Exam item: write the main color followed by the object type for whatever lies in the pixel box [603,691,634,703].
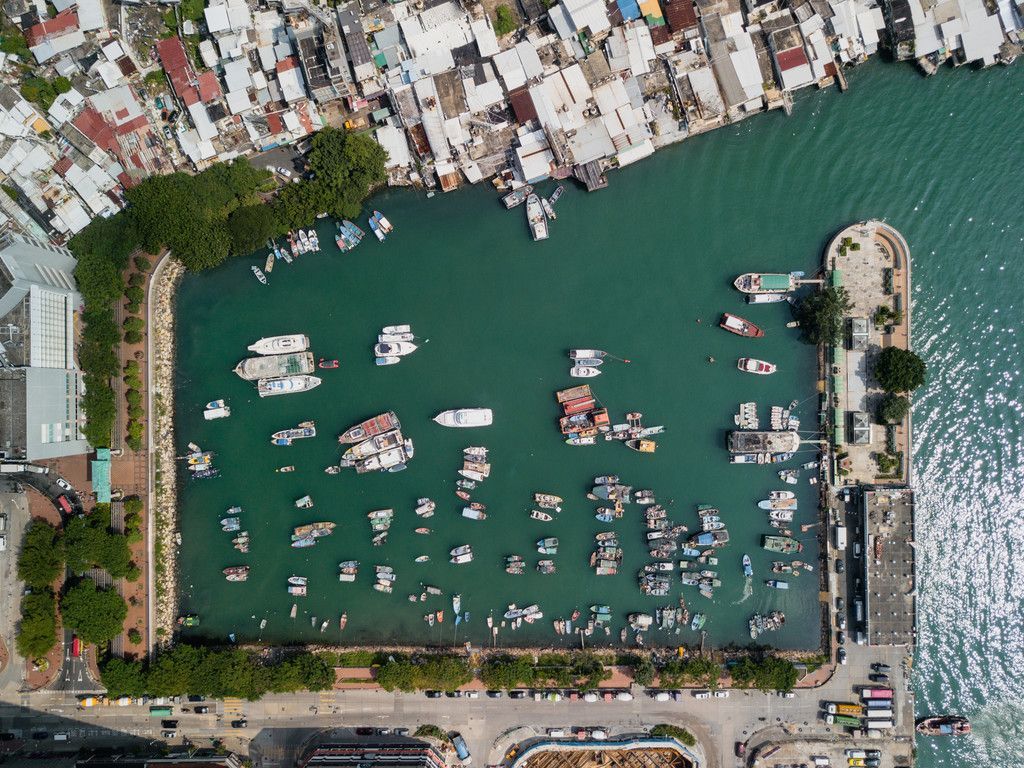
white vehicle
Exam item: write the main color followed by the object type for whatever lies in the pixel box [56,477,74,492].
white car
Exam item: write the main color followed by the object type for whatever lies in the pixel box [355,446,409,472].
white boat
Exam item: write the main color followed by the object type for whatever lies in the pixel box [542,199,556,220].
white boat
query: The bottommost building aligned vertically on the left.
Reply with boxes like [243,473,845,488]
[94,448,121,503]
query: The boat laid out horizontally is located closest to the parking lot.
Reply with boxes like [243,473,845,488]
[917,716,972,734]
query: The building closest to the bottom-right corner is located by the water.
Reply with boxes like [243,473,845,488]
[860,488,914,646]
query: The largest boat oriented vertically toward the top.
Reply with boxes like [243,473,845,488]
[526,194,552,243]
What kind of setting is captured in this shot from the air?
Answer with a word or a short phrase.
residential area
